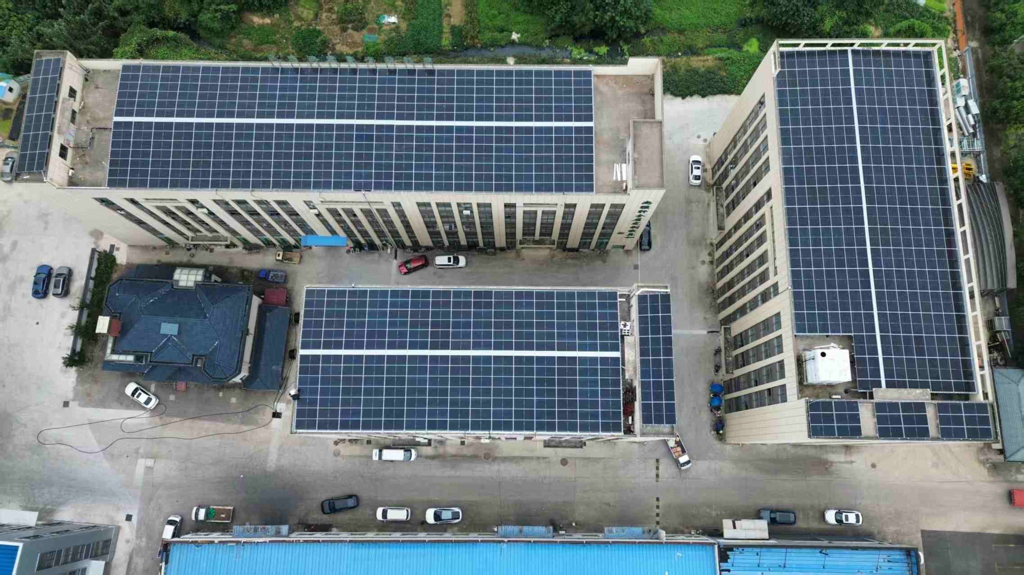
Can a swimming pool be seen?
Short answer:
No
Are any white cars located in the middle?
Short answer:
Yes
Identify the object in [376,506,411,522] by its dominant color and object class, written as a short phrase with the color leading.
white car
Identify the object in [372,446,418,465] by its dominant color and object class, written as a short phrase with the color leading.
white vehicle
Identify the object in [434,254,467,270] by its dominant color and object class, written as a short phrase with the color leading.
white car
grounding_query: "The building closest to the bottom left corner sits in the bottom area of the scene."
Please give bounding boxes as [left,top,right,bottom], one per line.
[0,511,120,575]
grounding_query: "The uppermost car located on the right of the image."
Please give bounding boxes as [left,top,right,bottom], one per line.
[687,156,703,187]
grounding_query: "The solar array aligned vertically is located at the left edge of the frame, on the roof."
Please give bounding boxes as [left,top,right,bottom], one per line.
[17,57,61,172]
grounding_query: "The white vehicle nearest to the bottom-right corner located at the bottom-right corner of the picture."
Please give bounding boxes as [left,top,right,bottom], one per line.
[823,508,863,526]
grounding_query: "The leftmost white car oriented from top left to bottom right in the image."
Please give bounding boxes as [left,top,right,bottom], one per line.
[123,378,164,414]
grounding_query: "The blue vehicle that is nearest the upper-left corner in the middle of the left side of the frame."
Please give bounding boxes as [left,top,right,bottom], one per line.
[31,264,55,300]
